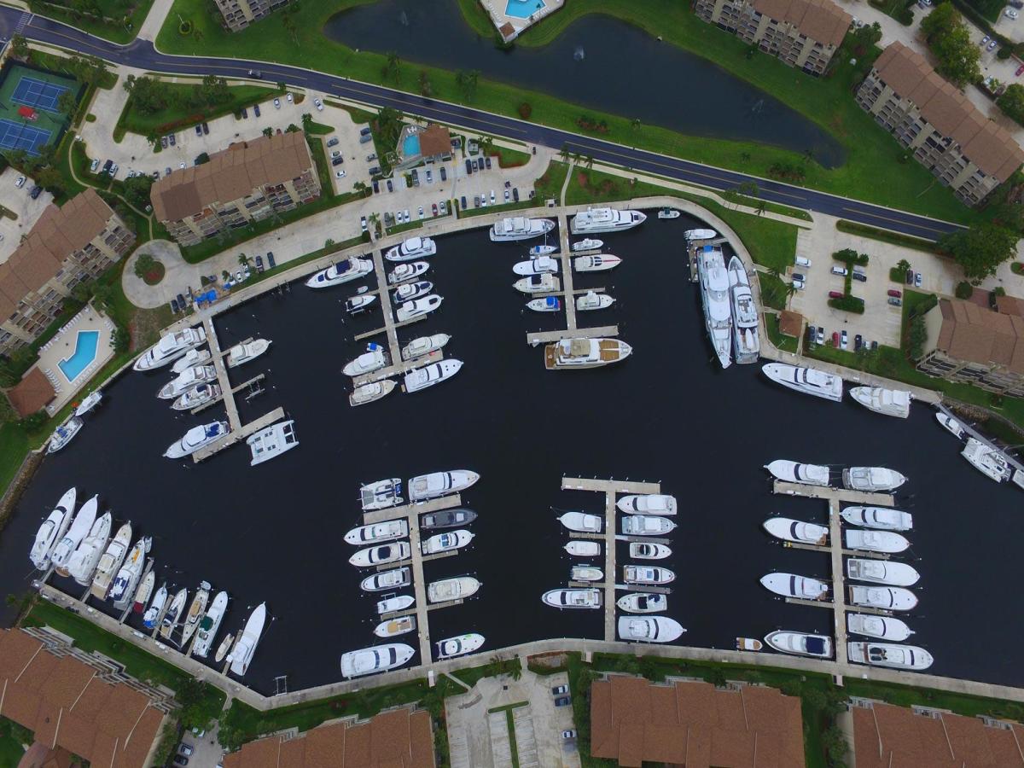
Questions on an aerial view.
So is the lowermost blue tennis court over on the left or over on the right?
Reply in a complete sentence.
The lowermost blue tennis court is on the left side of the image.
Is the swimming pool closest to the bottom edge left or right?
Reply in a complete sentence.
The swimming pool closest to the bottom edge sits on the left side.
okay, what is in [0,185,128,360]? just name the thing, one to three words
building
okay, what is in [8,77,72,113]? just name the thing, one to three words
tennis court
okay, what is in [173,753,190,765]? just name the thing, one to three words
vehicle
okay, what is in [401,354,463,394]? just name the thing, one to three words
boat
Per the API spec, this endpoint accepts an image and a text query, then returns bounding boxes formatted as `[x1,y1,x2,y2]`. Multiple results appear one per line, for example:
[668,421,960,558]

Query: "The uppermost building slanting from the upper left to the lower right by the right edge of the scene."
[856,44,1024,197]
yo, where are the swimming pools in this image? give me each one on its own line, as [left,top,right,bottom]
[480,0,564,43]
[35,306,117,418]
[395,123,424,162]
